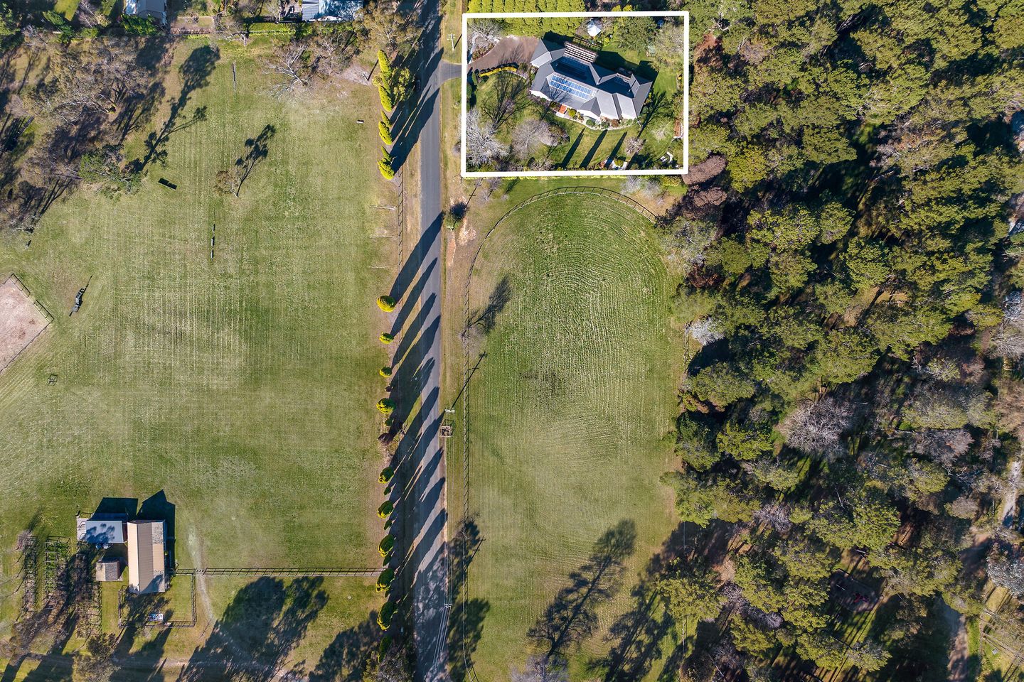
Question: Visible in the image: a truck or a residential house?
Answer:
residential house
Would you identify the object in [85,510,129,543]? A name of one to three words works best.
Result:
shed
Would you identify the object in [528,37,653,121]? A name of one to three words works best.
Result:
house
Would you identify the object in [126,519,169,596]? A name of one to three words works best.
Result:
barn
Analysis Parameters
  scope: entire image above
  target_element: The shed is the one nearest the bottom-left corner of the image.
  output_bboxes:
[95,561,124,582]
